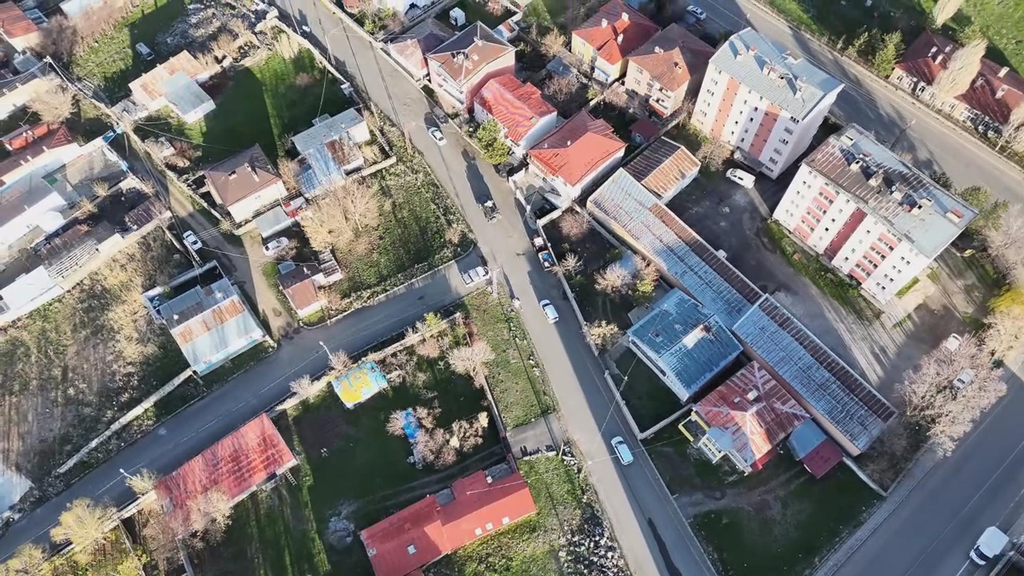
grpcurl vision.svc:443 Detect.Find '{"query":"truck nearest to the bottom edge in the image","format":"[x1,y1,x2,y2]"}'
[966,524,1013,566]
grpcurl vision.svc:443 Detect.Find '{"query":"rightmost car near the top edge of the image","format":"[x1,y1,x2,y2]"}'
[685,6,707,22]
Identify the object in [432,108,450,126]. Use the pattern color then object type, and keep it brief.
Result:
gray car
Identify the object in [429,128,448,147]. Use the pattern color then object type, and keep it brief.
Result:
white car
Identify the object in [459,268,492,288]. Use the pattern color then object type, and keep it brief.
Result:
white vehicle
